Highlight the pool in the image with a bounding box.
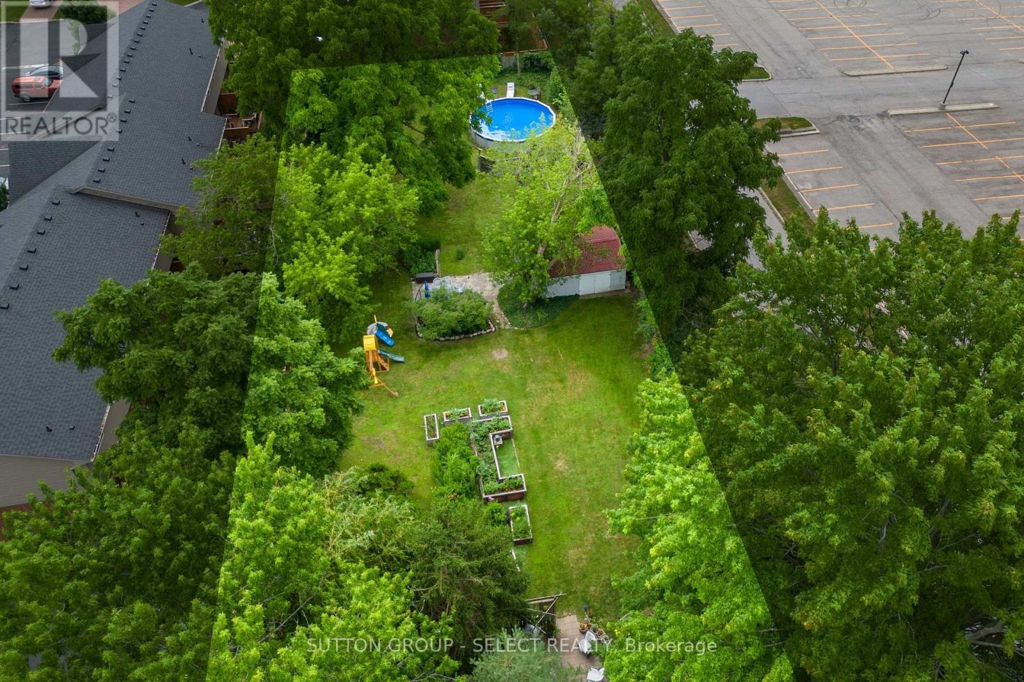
[467,99,559,157]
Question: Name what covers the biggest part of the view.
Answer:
trees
